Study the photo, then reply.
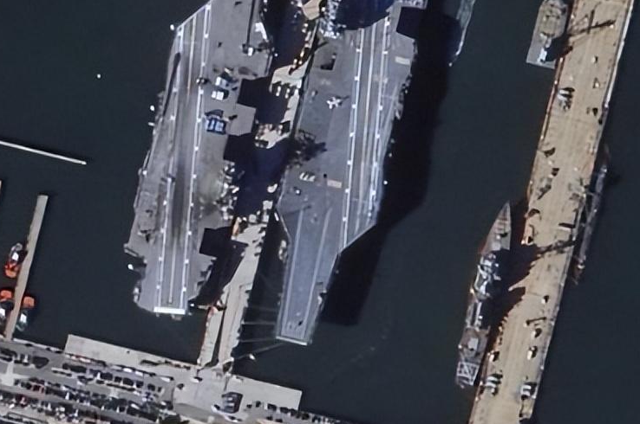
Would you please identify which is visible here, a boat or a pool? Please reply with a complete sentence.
The one in the frame is a boat.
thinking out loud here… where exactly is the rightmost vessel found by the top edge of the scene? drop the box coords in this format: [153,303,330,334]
[528,0,569,68]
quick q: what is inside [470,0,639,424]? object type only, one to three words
pier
